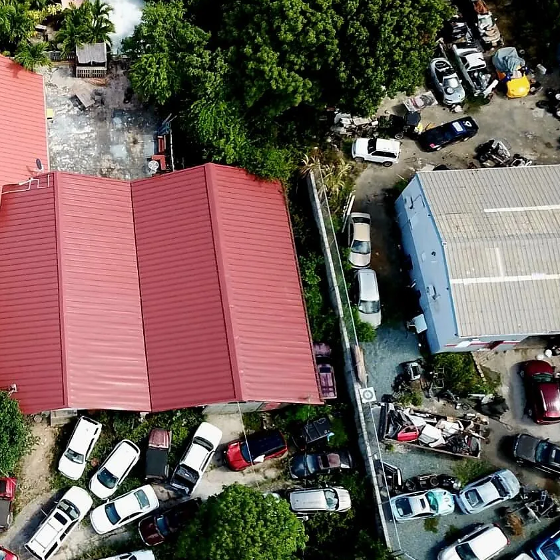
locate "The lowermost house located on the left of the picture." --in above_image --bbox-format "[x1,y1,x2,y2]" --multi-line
[0,162,324,413]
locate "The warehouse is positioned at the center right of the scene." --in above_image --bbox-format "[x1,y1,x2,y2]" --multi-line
[394,163,560,356]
